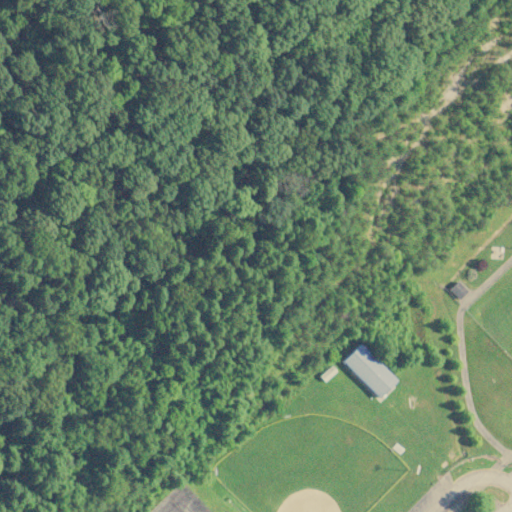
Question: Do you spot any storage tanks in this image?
No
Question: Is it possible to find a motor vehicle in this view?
No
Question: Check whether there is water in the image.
No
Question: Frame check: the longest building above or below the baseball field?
above it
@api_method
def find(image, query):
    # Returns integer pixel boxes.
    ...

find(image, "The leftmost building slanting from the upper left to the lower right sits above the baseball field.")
[344,344,398,400]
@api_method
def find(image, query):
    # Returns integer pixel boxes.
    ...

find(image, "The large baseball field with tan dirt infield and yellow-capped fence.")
[216,414,410,512]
